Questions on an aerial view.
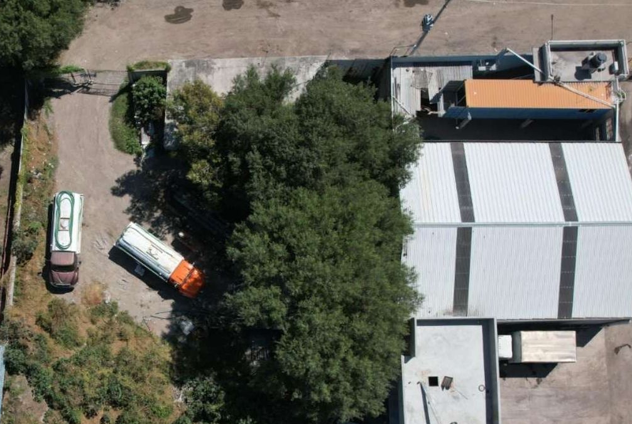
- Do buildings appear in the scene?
Yes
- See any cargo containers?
Yes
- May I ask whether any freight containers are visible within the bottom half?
No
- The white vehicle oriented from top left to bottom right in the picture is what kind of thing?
truck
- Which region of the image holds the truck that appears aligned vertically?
left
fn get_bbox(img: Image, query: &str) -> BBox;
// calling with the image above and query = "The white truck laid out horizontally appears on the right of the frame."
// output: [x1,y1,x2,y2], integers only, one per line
[498,332,577,363]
